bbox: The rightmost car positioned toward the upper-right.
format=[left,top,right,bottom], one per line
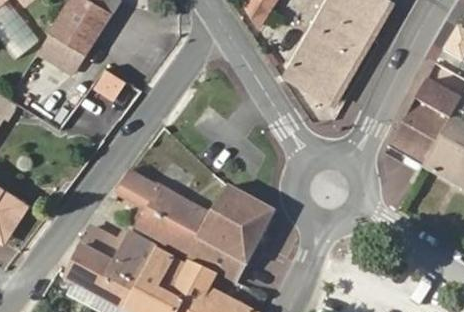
[390,48,407,70]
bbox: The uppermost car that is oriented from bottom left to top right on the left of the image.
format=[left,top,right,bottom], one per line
[42,90,62,111]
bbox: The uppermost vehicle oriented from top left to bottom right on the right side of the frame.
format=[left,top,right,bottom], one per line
[416,228,437,246]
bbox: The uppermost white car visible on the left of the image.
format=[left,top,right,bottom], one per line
[72,80,90,96]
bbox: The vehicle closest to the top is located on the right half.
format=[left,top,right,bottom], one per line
[282,28,302,52]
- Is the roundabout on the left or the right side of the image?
right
